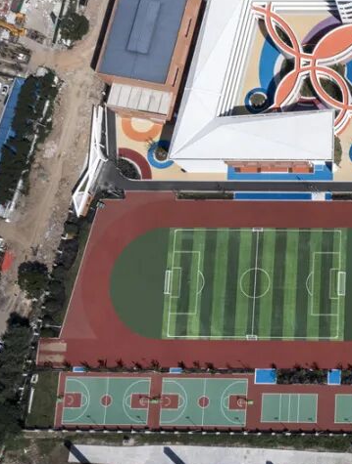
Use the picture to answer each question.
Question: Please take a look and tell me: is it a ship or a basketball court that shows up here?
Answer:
basketball court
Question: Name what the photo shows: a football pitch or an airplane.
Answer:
football pitch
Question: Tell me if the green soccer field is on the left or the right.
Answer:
right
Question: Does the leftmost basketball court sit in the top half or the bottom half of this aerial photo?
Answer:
bottom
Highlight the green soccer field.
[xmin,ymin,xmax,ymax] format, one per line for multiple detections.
[162,228,347,340]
